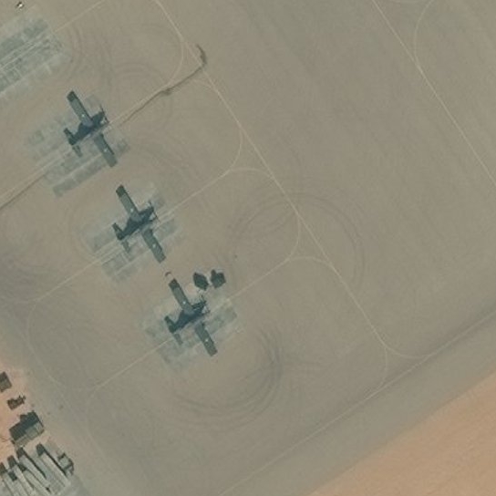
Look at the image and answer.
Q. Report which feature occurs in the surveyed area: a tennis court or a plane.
plane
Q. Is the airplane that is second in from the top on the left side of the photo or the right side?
left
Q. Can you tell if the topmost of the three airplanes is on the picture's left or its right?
left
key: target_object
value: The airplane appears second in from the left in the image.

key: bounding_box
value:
[113,195,166,260]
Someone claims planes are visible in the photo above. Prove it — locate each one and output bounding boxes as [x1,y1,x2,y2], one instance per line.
[166,289,218,354]
[113,195,166,260]
[65,99,117,165]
